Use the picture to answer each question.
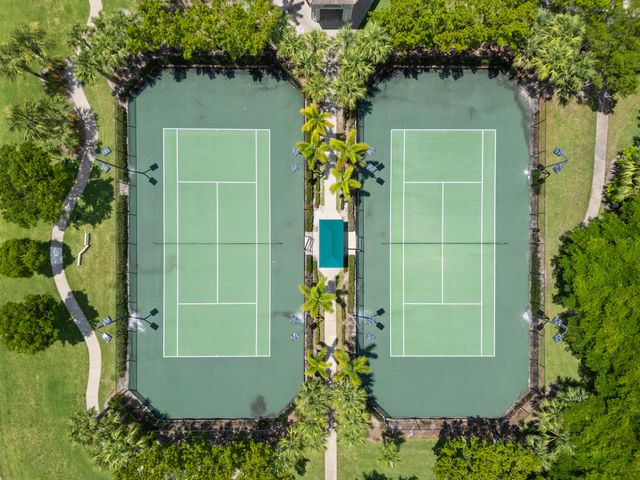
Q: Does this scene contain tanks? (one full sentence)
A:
No, the frame has no tank in it.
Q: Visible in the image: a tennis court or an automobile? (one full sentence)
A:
There is a tennis court in the scene.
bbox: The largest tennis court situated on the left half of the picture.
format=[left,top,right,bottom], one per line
[129,69,304,418]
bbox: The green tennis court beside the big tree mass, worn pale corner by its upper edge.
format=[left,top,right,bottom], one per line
[357,69,531,418]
